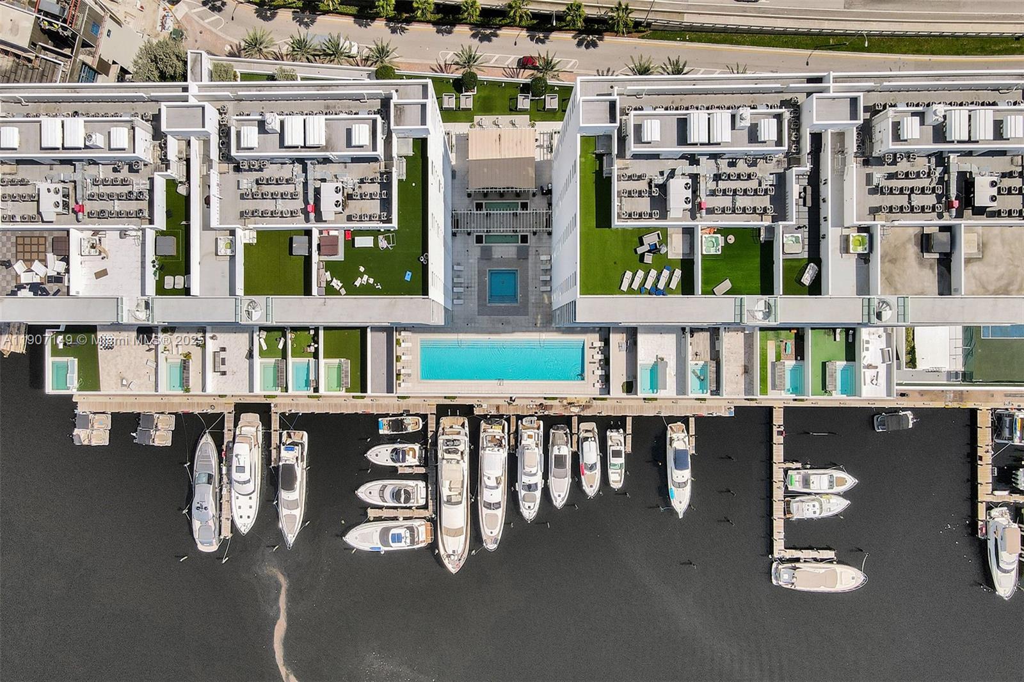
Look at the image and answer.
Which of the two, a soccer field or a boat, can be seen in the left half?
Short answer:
boat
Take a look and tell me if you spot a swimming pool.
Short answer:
Yes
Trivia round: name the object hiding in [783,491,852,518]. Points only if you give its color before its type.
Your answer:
white boat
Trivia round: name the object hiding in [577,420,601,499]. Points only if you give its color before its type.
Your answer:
white boat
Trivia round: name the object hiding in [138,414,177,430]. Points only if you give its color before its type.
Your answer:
gray boat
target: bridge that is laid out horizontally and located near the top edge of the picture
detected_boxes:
[394,0,1024,39]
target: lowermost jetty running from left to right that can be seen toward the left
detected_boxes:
[367,505,426,520]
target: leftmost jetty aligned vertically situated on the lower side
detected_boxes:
[217,412,238,539]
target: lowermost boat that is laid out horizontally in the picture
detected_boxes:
[768,558,869,591]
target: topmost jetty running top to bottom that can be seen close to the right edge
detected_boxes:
[971,407,999,502]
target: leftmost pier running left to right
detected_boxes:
[77,402,237,416]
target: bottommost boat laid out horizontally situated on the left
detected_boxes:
[343,516,436,551]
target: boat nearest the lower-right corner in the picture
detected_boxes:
[981,504,1024,600]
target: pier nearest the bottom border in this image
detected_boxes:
[784,546,839,563]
